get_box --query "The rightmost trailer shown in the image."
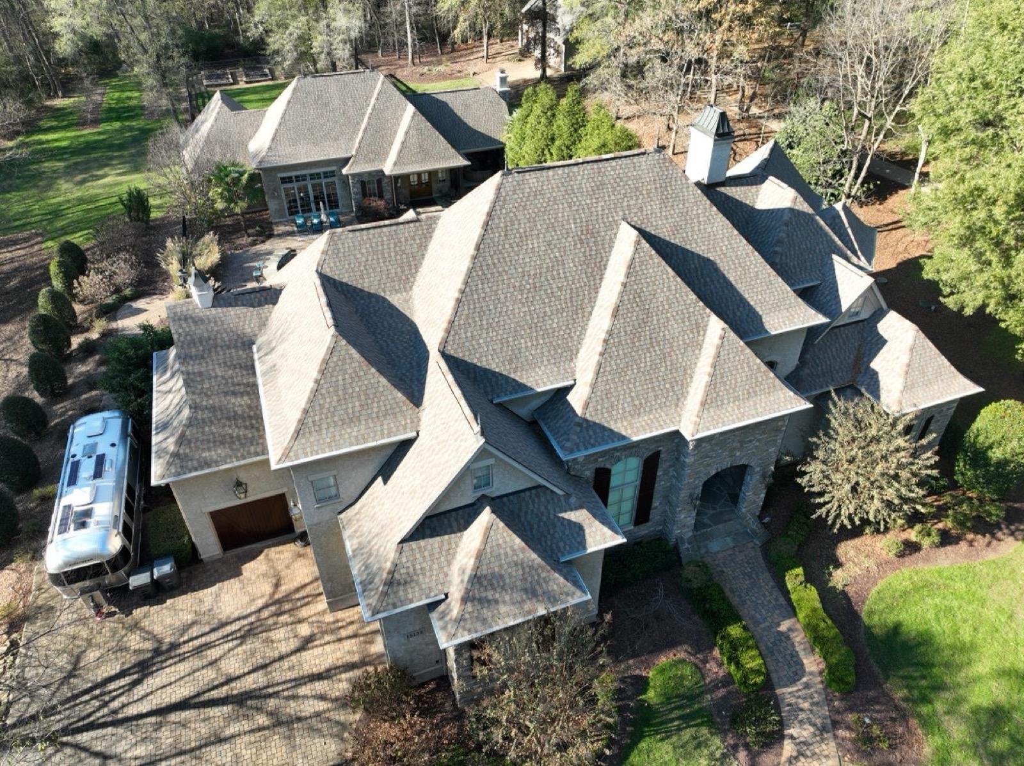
[51,416,151,627]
